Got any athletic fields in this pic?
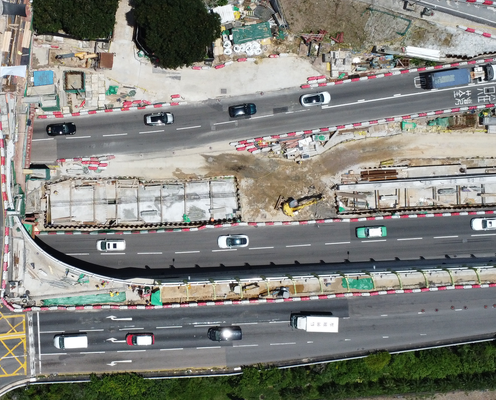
No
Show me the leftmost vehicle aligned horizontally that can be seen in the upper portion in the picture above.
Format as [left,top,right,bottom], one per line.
[46,121,75,136]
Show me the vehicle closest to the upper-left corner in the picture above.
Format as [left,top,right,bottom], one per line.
[53,52,114,70]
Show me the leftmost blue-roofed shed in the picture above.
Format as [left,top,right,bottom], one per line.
[34,71,55,85]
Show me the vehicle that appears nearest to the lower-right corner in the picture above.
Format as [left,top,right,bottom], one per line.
[471,217,496,231]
